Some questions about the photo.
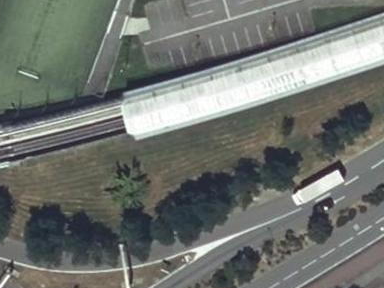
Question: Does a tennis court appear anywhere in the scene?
No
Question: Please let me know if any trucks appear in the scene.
Yes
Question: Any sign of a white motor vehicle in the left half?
No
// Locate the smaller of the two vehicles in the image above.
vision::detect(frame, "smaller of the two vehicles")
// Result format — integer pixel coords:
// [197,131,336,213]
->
[314,196,334,212]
